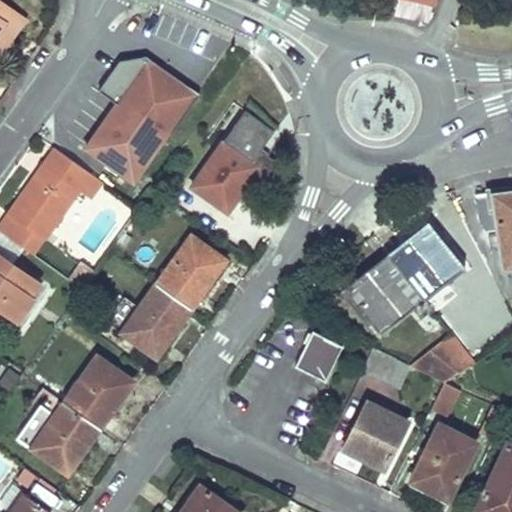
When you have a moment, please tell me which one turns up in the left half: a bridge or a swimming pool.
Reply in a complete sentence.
Visible in the left half is a swimming pool.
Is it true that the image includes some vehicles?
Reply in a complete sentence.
Yes, I can see a vehicle in this picture.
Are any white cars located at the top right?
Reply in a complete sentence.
Yes, you'll find a white car at the top right.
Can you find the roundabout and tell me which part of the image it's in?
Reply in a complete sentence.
The roundabout is in the top right part of the image.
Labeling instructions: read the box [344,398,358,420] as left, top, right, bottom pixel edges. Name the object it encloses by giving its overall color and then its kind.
white car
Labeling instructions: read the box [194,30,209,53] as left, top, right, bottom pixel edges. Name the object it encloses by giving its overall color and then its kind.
white car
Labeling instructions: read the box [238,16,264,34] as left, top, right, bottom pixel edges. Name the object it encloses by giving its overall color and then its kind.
white vehicle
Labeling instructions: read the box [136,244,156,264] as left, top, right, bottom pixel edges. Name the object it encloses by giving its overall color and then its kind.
blue swimming pool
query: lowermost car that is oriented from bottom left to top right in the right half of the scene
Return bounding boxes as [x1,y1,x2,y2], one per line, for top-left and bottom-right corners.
[334,421,350,442]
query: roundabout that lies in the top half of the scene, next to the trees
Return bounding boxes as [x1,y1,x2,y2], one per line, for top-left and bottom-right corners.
[337,63,422,148]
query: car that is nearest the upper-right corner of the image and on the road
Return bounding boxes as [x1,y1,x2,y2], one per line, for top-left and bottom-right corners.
[416,54,438,66]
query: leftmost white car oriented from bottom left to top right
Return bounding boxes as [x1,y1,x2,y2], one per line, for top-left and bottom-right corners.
[31,48,50,68]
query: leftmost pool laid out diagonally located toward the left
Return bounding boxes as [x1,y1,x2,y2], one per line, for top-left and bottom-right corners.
[77,207,118,254]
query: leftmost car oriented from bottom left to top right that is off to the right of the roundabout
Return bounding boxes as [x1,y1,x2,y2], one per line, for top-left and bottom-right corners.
[442,119,463,136]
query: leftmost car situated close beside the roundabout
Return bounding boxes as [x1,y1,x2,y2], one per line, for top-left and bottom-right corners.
[350,54,372,68]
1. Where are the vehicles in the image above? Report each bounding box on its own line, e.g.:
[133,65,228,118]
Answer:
[124,14,142,34]
[264,342,284,359]
[259,288,276,309]
[94,48,114,69]
[292,396,314,411]
[442,119,463,136]
[266,32,287,49]
[282,420,304,436]
[253,352,276,370]
[278,432,300,448]
[94,490,113,510]
[31,48,50,68]
[288,408,308,424]
[108,470,126,491]
[462,130,488,150]
[284,322,296,344]
[350,54,372,68]
[416,54,438,66]
[334,421,350,442]
[230,392,250,410]
[272,478,296,496]
[197,212,218,230]
[142,12,159,34]
[448,191,464,218]
[344,398,358,420]
[286,46,306,64]
[178,188,196,206]
[194,30,209,53]
[238,16,264,34]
